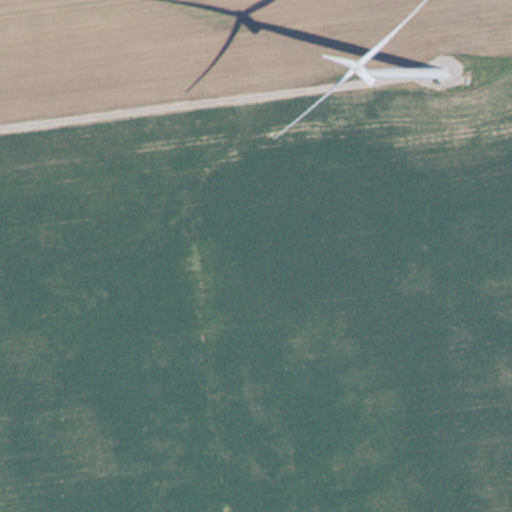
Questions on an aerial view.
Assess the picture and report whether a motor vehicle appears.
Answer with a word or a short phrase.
No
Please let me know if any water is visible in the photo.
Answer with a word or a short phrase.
No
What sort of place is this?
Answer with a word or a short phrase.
farmland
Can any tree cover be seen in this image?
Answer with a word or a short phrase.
No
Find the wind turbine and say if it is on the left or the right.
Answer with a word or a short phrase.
right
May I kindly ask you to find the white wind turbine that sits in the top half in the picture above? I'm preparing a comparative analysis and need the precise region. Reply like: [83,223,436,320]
[275,0,452,138]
